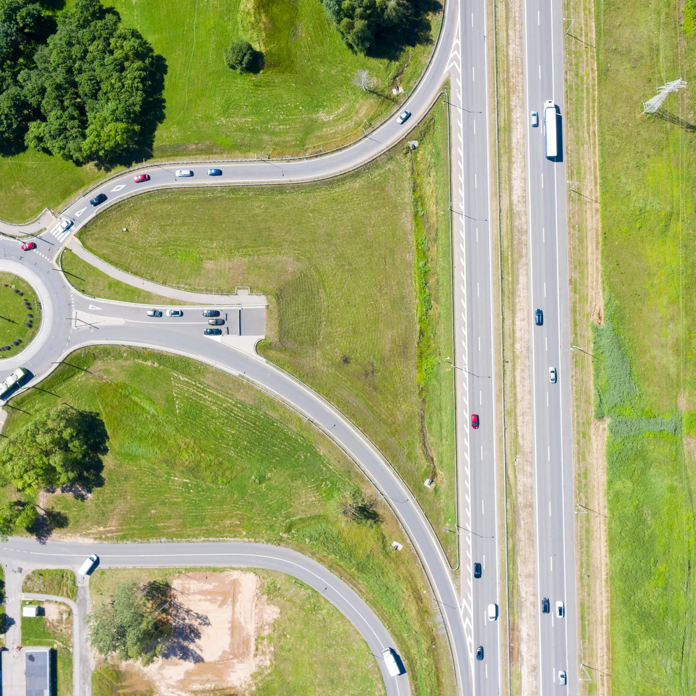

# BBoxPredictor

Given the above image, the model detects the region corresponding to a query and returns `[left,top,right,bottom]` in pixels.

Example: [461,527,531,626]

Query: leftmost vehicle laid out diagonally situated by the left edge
[0,369,29,398]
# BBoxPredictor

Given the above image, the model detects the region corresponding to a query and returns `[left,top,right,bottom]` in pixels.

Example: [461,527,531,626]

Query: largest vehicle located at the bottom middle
[383,647,399,679]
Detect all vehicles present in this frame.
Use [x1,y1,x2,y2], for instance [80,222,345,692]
[548,368,556,383]
[557,601,563,617]
[204,327,221,335]
[396,111,410,124]
[543,102,555,159]
[488,604,496,621]
[474,563,481,577]
[531,112,537,126]
[90,195,105,206]
[535,310,542,325]
[0,369,29,398]
[476,645,483,661]
[383,647,399,679]
[209,319,224,325]
[22,243,36,250]
[203,310,219,316]
[176,171,191,177]
[471,414,477,428]
[59,217,74,232]
[77,555,97,576]
[558,670,564,685]
[542,597,548,613]
[133,175,148,183]
[208,170,221,176]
